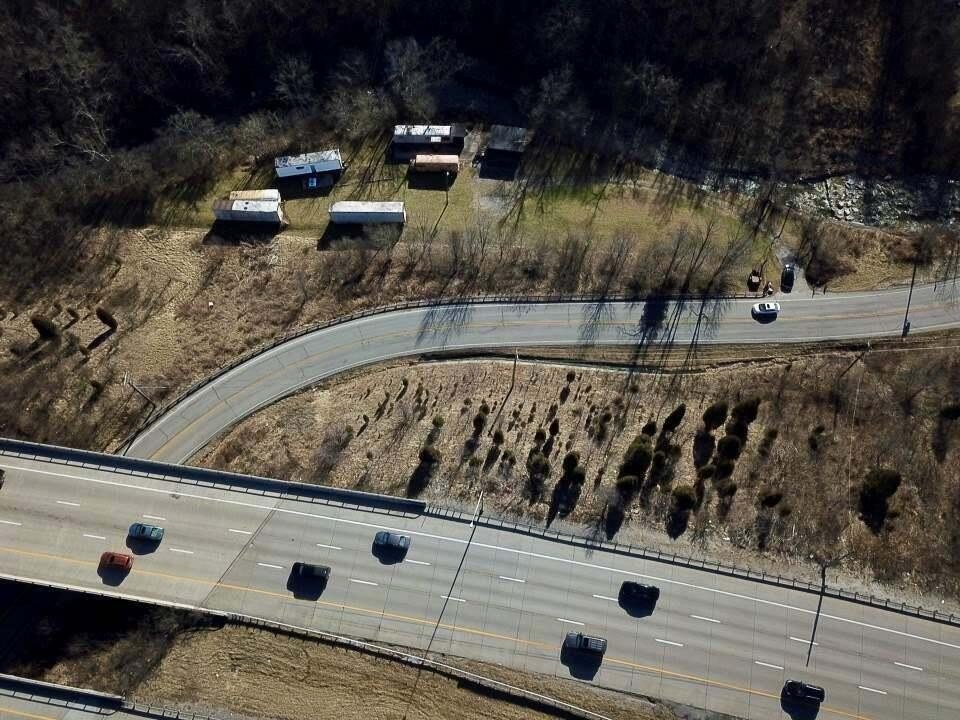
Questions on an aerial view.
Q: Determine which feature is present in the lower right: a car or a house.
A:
car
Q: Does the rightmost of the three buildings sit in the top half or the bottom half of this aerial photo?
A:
top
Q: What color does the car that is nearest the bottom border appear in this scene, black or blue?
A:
black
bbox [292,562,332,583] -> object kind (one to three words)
car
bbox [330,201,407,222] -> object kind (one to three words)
trailer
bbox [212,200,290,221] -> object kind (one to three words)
trailer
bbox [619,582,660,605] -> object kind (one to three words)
car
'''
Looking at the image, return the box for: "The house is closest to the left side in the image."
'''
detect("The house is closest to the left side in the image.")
[274,149,342,181]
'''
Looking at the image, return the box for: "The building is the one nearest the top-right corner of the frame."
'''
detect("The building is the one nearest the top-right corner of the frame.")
[488,122,529,159]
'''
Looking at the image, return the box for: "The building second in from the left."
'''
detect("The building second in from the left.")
[393,124,467,148]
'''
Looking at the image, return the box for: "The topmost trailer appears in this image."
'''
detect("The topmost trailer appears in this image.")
[411,155,458,174]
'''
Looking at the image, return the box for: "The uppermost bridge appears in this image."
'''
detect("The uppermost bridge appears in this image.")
[0,439,427,618]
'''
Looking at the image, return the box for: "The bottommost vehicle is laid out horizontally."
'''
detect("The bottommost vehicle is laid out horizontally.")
[782,681,826,705]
